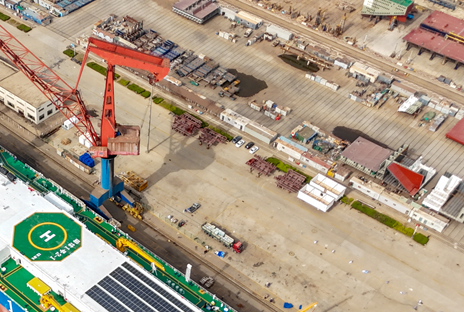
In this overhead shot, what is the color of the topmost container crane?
red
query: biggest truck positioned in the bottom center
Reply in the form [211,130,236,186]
[201,224,241,255]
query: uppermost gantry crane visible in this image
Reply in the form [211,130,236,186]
[0,18,170,223]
